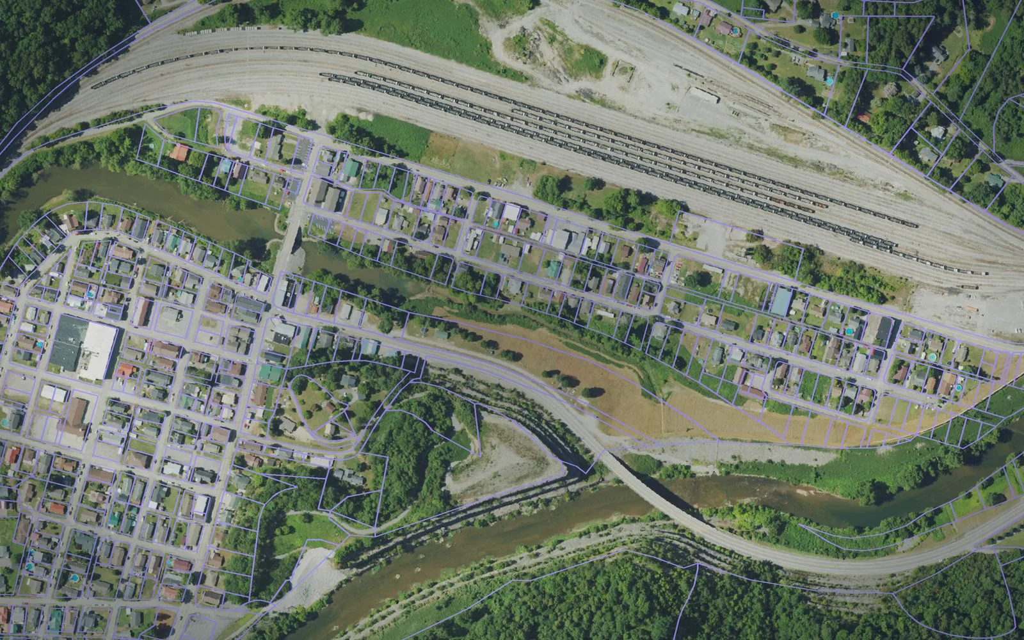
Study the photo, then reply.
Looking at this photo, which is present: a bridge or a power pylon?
bridge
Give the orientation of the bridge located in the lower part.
on a diagonal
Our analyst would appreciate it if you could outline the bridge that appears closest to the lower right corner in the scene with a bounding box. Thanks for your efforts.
[609,447,714,536]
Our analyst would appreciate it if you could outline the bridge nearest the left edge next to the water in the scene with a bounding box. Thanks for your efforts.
[277,206,300,265]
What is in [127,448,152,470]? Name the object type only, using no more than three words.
building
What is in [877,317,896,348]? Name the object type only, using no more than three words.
building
